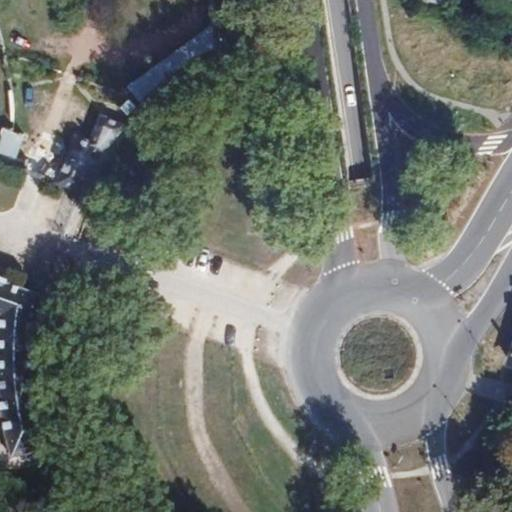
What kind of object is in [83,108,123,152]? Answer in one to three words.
house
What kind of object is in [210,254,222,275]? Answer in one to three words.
vehicle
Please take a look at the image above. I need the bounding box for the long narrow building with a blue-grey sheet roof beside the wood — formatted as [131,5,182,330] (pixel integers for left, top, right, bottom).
[128,26,214,100]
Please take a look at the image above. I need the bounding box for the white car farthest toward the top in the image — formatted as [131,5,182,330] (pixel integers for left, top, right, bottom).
[12,34,32,51]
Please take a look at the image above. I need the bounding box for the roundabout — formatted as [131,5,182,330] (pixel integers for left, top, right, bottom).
[291,258,468,452]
